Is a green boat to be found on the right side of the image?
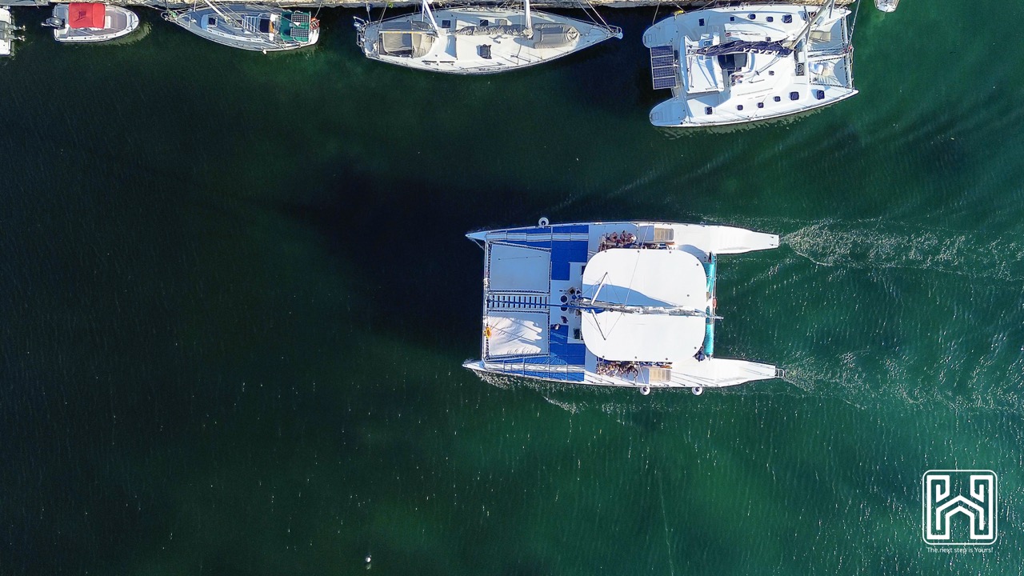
No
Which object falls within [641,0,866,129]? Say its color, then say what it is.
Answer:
white boat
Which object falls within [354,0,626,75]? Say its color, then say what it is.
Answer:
white boat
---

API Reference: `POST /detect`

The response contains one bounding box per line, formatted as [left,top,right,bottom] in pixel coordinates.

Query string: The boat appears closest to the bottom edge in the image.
[464,222,785,389]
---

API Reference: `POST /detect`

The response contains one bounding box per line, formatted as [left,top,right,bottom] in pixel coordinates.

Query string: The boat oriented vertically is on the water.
[0,6,26,60]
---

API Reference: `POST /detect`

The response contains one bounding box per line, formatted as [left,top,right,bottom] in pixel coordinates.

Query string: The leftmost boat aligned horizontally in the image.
[40,3,143,43]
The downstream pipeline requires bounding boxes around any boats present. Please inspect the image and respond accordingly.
[0,6,26,60]
[162,0,321,52]
[464,222,785,389]
[354,0,626,75]
[869,0,898,12]
[40,3,143,43]
[641,0,866,129]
